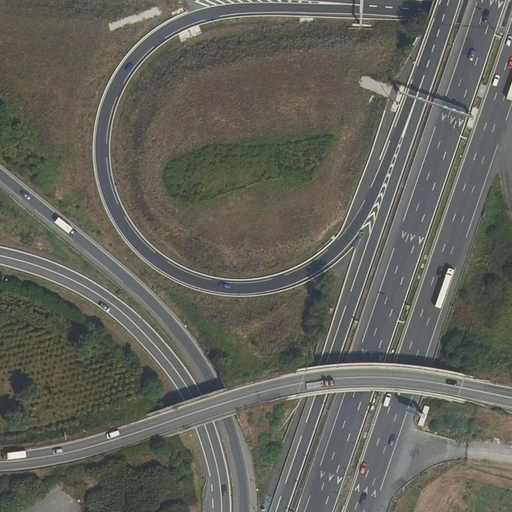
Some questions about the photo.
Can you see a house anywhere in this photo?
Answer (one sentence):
No, the picture doesn't show any house.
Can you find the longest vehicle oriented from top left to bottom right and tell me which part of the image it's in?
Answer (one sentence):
The longest vehicle oriented from top left to bottom right appears toward the left of the photo.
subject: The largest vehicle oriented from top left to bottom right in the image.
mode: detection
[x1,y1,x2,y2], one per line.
[55,216,76,236]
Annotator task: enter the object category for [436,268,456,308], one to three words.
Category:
vehicle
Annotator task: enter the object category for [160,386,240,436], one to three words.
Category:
overpass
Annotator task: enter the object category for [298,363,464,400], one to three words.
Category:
overpass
